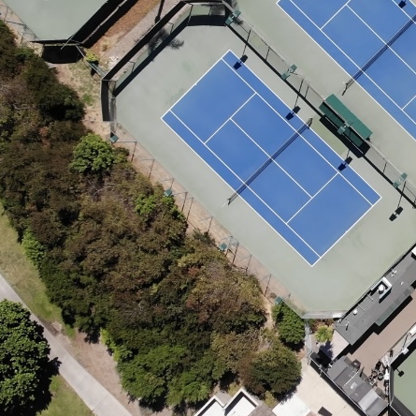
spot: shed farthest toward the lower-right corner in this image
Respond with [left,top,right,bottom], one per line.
[358,384,389,416]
